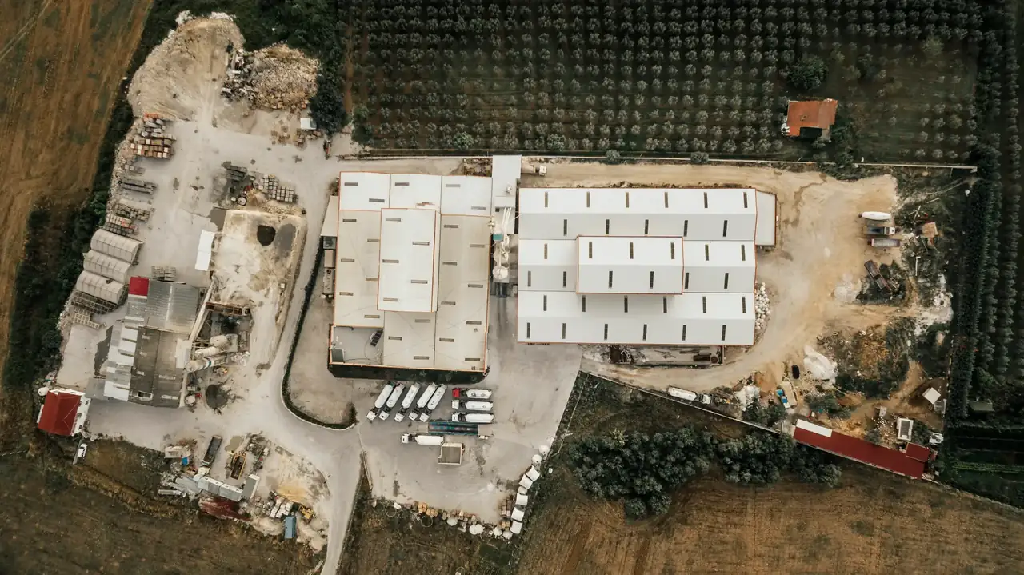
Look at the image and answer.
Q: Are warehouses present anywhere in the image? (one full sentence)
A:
Yes, you can see a warehouse in this photo.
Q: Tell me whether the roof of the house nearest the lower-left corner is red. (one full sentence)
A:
Yes, the roof of the house nearest the lower-left corner is indeed red.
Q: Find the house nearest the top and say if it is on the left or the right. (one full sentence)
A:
The house nearest the top sits on the right side.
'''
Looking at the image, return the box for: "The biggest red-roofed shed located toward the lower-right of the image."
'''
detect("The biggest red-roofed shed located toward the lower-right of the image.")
[791,419,925,480]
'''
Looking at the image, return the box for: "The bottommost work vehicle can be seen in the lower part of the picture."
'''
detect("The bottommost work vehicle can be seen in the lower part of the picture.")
[294,499,317,518]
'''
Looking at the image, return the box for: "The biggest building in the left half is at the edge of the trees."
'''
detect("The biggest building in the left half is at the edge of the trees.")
[327,172,492,373]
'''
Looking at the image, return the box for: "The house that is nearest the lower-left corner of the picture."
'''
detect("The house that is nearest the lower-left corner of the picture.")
[38,389,95,437]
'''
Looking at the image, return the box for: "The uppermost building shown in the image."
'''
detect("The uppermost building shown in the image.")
[784,99,838,138]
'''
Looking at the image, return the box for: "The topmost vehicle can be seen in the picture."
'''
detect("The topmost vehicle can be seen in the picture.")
[299,117,318,129]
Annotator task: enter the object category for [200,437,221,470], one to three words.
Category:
truck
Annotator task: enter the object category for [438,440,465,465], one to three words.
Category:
building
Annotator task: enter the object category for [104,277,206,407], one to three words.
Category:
building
